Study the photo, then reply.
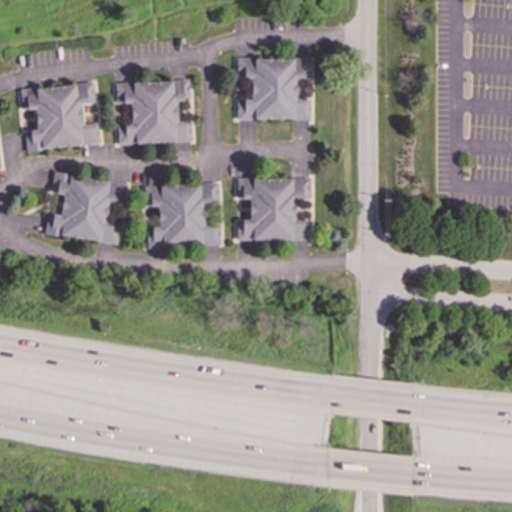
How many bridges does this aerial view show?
two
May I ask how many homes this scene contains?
6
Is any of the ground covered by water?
No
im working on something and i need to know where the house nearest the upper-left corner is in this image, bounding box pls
[20,80,102,153]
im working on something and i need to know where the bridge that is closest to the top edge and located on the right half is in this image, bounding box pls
[324,372,420,425]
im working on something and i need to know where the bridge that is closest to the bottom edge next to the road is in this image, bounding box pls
[324,446,420,496]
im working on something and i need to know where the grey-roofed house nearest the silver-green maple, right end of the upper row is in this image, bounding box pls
[238,57,313,122]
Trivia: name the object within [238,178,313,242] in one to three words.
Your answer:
house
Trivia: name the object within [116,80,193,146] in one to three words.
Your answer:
house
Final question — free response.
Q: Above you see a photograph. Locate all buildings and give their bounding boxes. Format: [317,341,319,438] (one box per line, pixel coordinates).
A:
[238,57,313,122]
[44,172,124,247]
[116,80,193,146]
[146,180,222,248]
[20,80,102,153]
[238,178,313,242]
